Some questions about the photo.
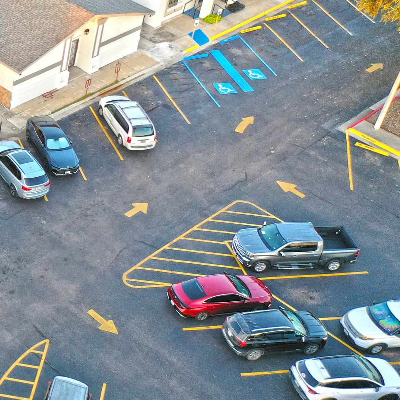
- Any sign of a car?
Yes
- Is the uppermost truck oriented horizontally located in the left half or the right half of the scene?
right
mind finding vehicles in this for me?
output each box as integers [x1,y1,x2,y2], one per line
[0,137,52,204]
[23,115,79,178]
[169,272,284,320]
[290,352,400,400]
[38,375,89,400]
[344,300,400,356]
[94,96,156,153]
[227,221,368,274]
[225,308,342,363]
